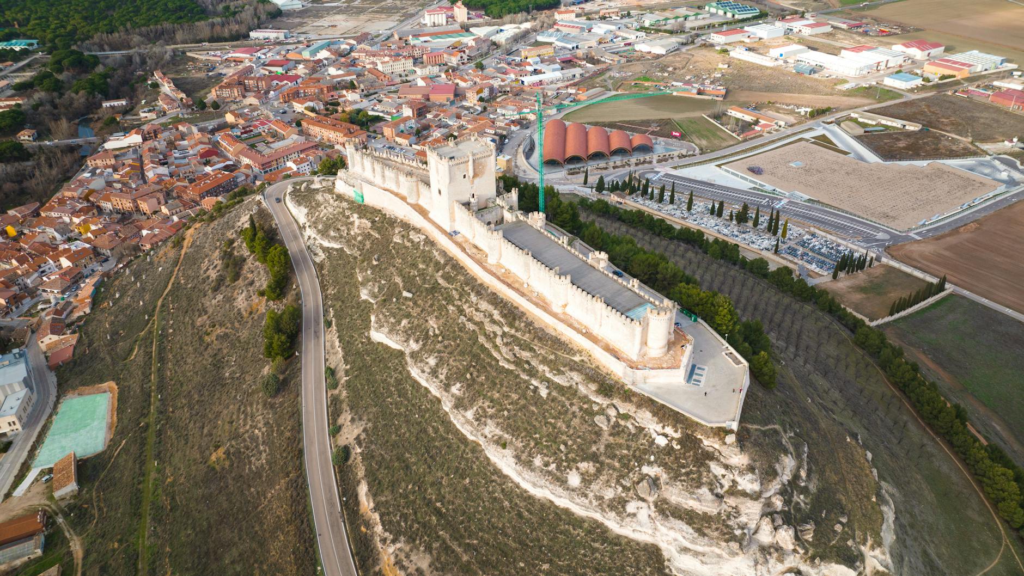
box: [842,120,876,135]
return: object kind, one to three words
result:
shed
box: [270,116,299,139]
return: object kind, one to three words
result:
building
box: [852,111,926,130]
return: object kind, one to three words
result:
shed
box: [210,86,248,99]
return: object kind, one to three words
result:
building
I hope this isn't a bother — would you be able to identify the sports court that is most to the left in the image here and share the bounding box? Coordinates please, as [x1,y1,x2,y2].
[32,393,110,468]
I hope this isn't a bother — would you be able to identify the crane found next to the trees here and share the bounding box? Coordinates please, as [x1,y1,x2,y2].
[509,86,676,202]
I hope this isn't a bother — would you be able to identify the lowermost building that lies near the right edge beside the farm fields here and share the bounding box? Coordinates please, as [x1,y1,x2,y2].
[722,139,1003,235]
